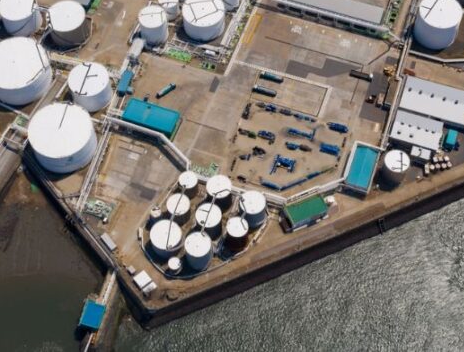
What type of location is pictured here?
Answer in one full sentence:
What you see here is an industrial area.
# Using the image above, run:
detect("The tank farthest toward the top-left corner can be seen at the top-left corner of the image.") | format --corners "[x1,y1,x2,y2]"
[0,0,50,37]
